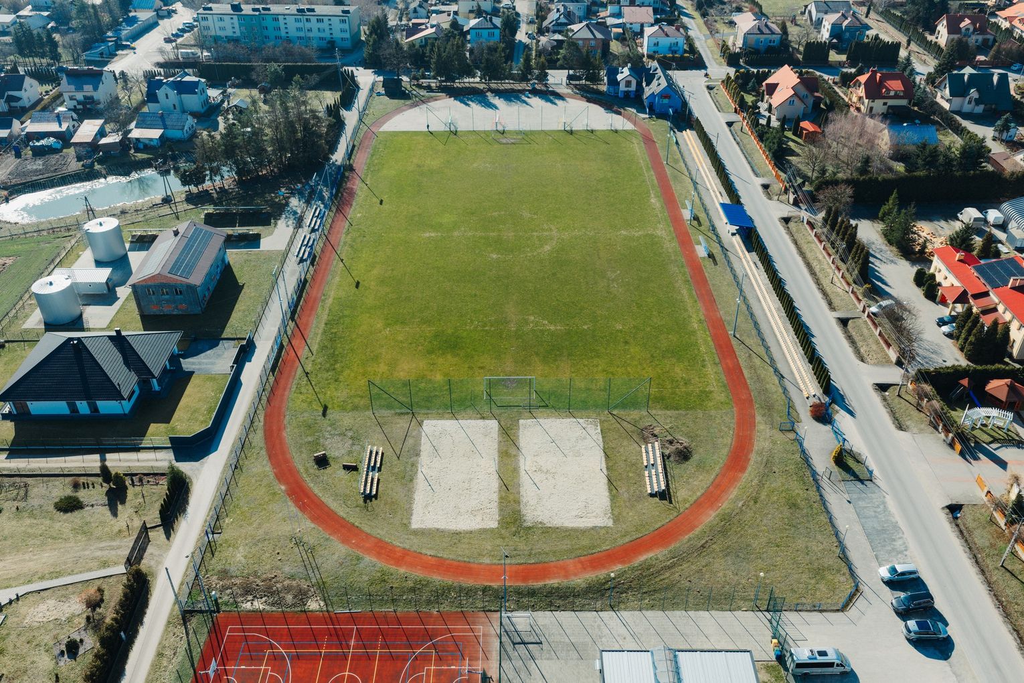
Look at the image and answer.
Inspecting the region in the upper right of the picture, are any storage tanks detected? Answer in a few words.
No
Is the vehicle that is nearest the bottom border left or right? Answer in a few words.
right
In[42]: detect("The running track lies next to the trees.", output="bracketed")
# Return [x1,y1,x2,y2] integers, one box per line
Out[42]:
[263,89,756,586]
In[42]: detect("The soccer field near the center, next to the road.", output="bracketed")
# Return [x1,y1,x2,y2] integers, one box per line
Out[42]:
[289,130,731,415]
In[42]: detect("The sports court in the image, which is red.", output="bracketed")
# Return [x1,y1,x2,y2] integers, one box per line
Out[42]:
[185,611,501,683]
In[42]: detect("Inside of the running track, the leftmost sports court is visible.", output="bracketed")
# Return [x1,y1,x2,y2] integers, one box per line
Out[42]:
[408,419,501,532]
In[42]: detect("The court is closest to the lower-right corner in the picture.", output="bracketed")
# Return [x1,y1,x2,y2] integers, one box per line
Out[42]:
[517,418,614,529]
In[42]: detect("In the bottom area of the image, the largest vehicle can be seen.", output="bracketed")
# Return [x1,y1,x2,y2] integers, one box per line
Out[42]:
[790,646,855,678]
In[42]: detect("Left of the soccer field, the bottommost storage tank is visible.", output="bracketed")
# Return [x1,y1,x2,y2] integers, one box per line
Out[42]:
[28,274,86,329]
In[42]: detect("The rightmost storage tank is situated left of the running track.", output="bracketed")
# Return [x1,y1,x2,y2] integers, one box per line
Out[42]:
[82,217,130,264]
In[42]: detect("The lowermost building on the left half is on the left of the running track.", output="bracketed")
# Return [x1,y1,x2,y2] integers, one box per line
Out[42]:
[0,326,188,423]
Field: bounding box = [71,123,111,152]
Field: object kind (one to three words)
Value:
shed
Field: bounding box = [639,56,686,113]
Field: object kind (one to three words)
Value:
building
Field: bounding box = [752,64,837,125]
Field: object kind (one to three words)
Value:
house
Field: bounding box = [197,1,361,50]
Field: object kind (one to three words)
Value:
building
